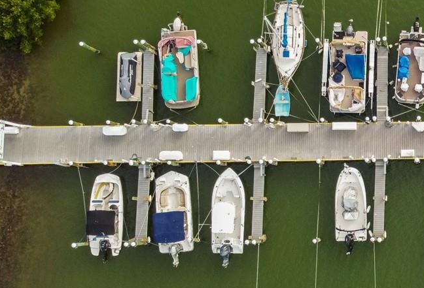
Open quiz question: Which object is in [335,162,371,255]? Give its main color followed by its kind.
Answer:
white boat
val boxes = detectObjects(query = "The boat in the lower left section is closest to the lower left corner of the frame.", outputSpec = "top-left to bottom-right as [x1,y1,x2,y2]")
[87,174,127,263]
